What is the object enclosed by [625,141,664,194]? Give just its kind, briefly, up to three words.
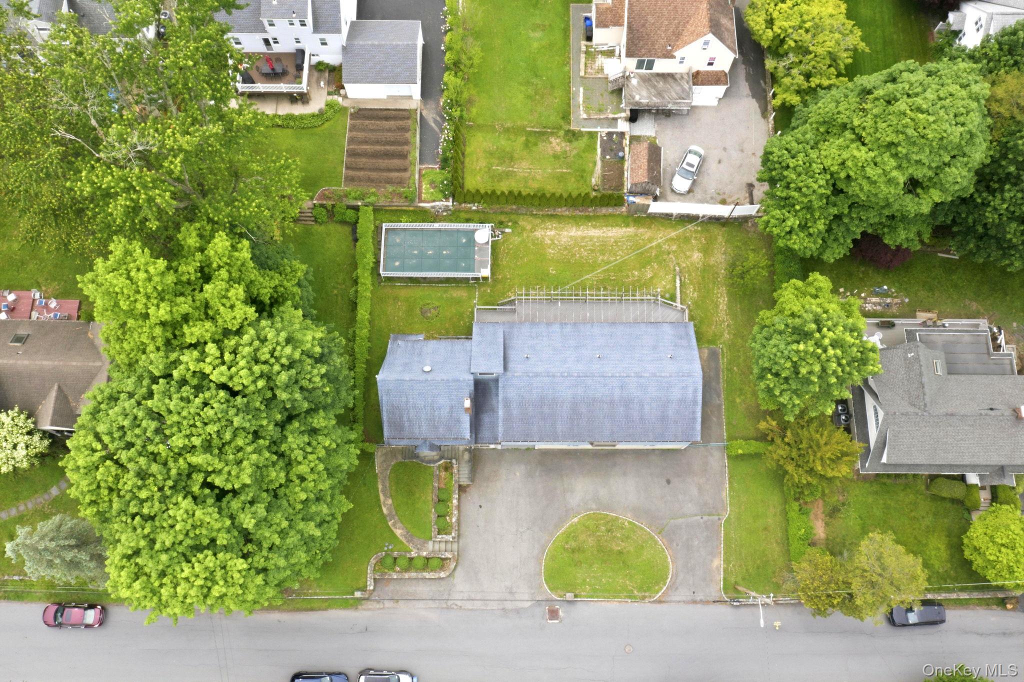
shed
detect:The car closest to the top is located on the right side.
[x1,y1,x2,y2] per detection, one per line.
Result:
[672,145,703,196]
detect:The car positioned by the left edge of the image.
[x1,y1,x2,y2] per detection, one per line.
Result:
[42,600,109,632]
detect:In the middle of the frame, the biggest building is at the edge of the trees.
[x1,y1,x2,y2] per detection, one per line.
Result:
[374,321,703,456]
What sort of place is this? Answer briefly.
residential area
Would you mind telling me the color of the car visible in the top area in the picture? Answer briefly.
white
